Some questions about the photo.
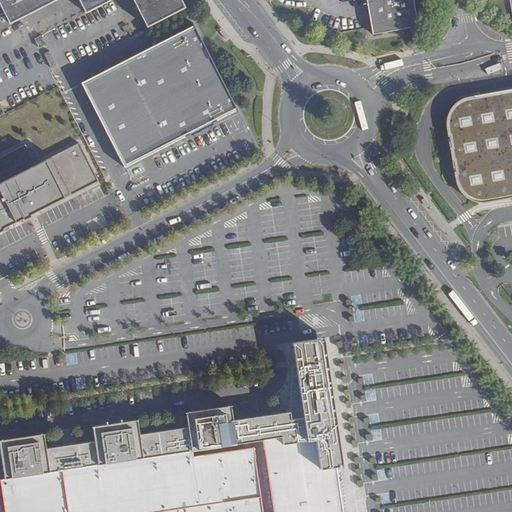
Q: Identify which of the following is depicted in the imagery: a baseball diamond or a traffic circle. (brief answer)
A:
traffic circle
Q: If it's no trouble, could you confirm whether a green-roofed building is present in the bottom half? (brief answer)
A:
No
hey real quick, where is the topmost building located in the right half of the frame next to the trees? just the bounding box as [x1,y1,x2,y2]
[366,0,416,36]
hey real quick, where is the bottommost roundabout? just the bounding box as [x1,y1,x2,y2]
[0,288,51,348]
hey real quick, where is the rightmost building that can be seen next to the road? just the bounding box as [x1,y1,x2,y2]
[446,89,512,202]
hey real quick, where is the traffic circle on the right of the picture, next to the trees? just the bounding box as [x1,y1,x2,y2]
[280,66,379,164]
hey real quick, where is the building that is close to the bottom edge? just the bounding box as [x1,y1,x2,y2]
[0,337,348,512]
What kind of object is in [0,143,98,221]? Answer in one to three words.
building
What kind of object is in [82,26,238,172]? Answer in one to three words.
building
